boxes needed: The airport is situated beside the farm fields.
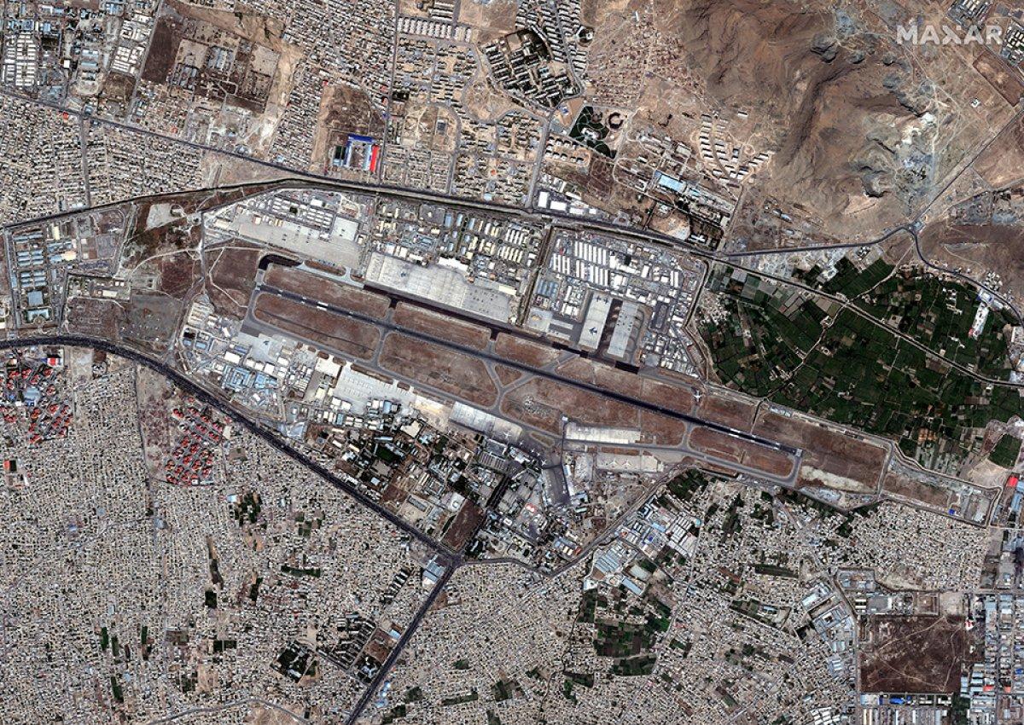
[213,205,887,507]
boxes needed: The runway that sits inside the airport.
[256,283,801,456]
